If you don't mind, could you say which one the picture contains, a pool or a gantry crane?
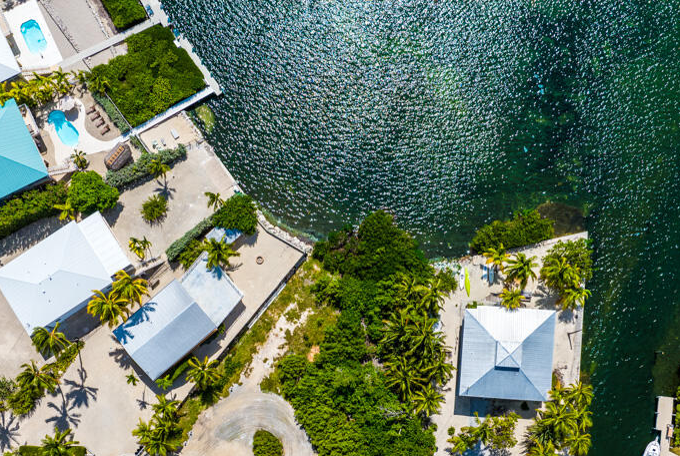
pool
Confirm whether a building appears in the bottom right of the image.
Yes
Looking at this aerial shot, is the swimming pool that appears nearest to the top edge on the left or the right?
left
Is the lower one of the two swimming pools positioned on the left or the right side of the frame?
left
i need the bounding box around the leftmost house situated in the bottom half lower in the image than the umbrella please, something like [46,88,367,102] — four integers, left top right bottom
[0,213,135,336]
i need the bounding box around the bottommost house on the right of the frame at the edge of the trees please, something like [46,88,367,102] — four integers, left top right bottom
[458,309,557,401]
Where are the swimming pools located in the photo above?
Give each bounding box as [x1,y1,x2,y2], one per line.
[36,96,120,167]
[1,0,63,66]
